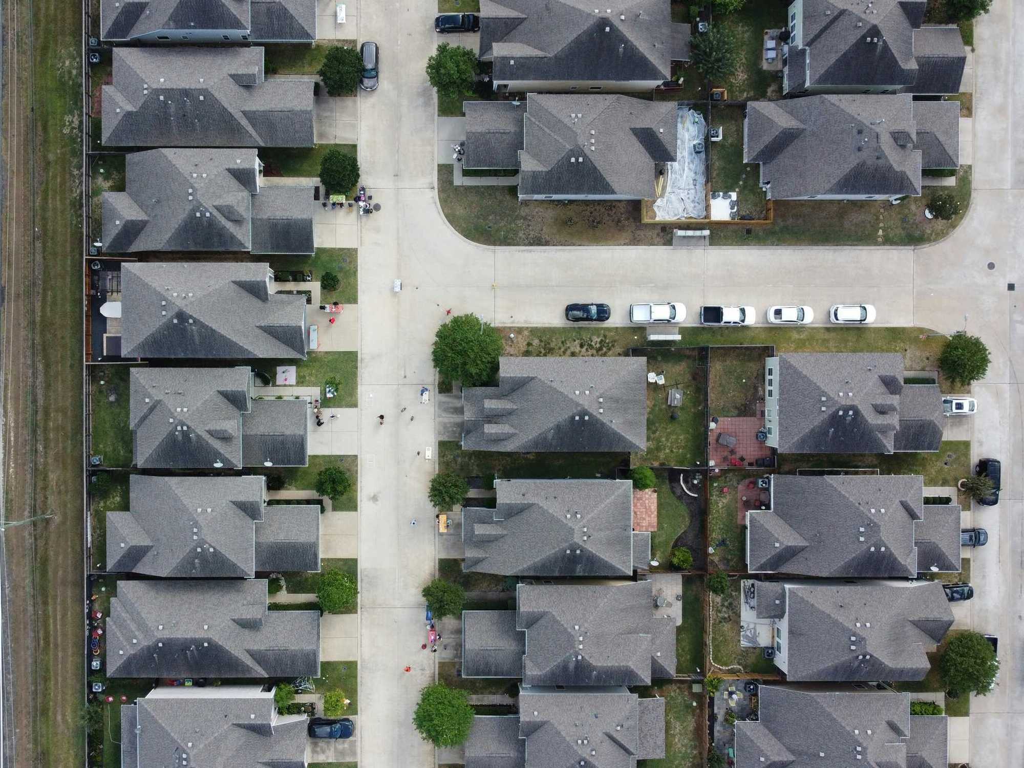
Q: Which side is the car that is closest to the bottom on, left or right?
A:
left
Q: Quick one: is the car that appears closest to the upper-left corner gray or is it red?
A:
gray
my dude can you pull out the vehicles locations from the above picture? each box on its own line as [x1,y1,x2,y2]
[565,300,610,323]
[941,581,976,603]
[827,302,874,325]
[309,716,353,741]
[961,527,988,549]
[973,458,1001,504]
[435,10,478,35]
[765,304,812,325]
[699,304,755,327]
[628,300,686,324]
[359,42,380,93]
[945,396,978,416]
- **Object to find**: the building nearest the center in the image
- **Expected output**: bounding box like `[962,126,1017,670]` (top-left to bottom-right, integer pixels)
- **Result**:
[462,356,647,452]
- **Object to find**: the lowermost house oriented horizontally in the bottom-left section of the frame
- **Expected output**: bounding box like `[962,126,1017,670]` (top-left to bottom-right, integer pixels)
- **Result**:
[121,684,310,768]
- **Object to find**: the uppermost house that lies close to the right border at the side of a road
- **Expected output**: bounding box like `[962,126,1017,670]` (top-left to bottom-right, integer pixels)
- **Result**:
[783,0,973,99]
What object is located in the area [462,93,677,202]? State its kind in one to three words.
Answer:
house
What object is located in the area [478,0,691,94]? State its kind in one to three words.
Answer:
house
